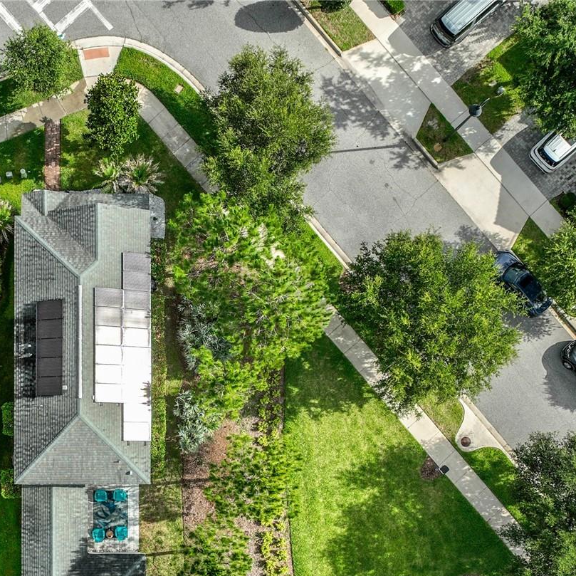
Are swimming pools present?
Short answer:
No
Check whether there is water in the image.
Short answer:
No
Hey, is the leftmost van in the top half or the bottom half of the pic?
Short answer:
top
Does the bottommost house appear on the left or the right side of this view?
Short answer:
left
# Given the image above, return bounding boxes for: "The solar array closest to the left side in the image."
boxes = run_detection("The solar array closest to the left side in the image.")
[36,296,63,398]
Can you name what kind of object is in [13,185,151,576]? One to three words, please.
house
